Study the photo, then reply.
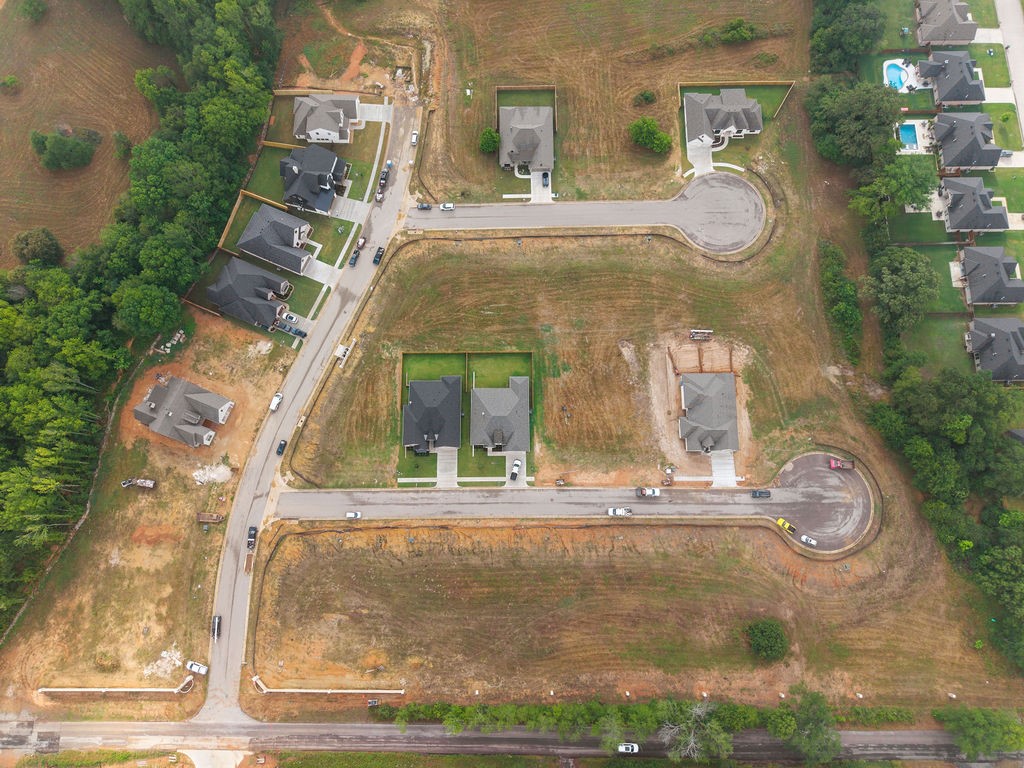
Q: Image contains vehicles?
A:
Yes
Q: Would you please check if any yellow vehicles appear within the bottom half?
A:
Yes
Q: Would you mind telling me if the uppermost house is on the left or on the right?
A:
right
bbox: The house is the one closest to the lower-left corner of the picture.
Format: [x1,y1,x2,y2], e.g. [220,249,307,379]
[129,376,237,448]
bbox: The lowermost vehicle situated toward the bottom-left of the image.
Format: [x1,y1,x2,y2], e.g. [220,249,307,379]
[187,659,210,675]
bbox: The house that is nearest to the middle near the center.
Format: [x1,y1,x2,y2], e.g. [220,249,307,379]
[470,376,530,451]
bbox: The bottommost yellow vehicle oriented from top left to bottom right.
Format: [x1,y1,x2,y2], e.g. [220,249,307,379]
[775,517,796,536]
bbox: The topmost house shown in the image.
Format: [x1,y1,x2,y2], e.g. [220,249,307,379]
[913,0,977,47]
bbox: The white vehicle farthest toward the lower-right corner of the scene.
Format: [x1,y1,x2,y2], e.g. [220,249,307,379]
[799,533,817,548]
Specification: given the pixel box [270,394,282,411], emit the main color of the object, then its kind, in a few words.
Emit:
white vehicle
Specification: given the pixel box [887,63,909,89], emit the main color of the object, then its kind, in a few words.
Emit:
blue swimming pool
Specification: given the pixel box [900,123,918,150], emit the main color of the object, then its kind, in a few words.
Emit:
blue swimming pool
